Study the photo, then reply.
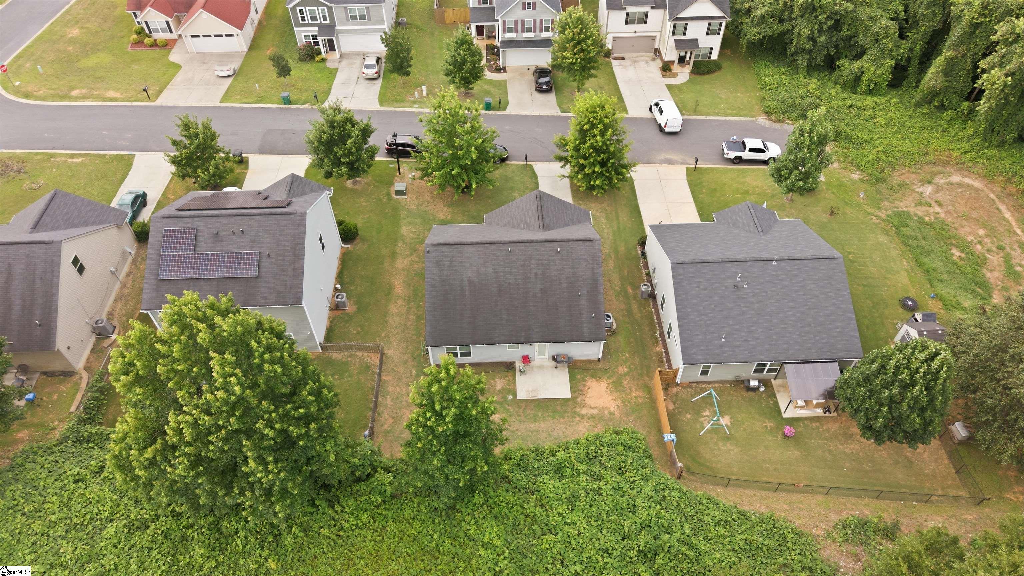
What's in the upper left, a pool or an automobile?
automobile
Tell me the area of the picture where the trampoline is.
right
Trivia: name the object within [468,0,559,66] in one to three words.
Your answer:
house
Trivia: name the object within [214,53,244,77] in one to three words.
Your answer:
car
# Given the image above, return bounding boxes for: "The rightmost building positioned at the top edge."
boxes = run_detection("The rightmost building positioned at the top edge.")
[596,0,733,73]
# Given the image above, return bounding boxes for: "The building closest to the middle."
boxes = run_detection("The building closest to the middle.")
[423,190,608,364]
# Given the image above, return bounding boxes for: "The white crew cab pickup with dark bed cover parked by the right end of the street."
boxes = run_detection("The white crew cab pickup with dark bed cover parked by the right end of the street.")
[723,137,785,165]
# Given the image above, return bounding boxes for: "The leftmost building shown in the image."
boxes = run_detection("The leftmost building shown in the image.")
[0,188,131,373]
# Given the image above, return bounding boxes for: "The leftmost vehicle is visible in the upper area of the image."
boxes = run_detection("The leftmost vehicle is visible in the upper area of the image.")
[114,186,151,224]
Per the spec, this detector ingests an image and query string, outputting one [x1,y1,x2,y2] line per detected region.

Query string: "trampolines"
[900,291,921,311]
